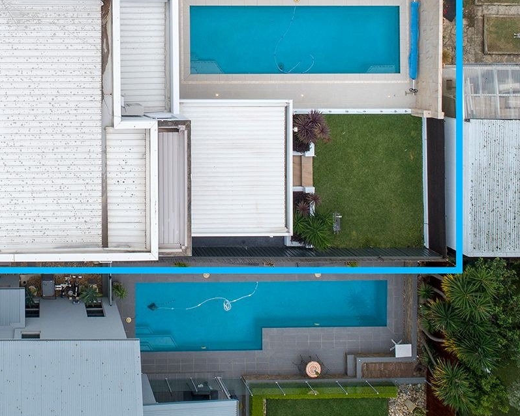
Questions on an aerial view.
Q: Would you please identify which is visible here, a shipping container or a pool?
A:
pool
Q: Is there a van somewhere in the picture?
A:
No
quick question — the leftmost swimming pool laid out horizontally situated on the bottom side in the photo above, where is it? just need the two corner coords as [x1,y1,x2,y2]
[135,279,386,352]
